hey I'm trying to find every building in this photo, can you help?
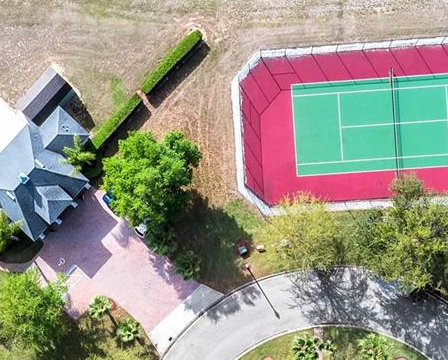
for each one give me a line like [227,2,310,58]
[0,106,98,242]
[15,65,69,121]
